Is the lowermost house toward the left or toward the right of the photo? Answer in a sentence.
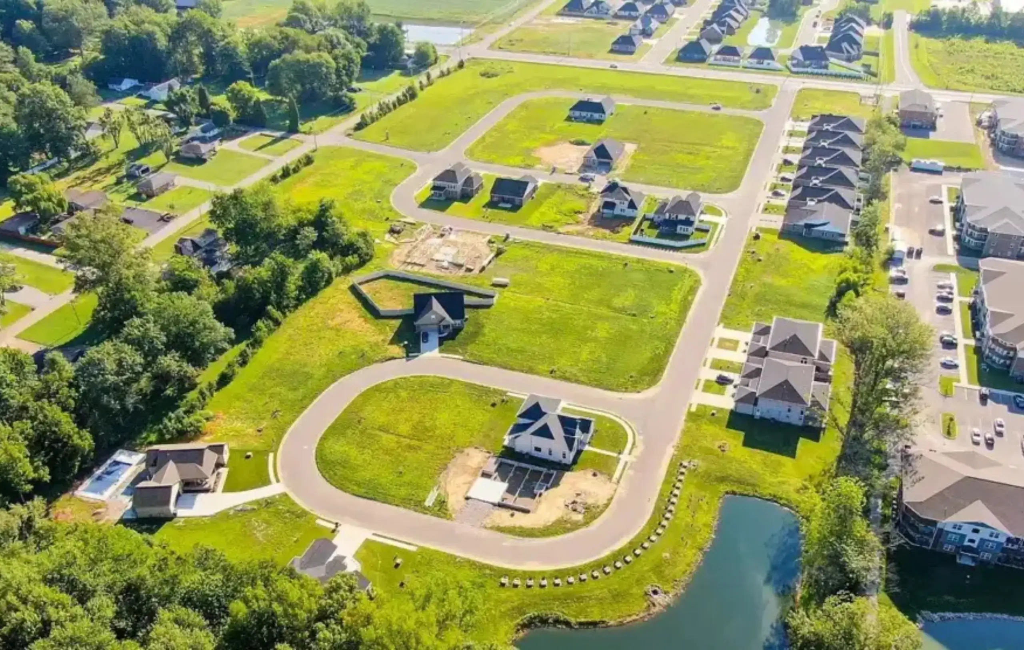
The lowermost house is on the left side of the image.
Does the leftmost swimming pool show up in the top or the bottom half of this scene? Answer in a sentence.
The bottom half of the photo is where the leftmost swimming pool is.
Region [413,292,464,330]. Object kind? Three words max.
house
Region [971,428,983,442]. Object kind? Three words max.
vehicle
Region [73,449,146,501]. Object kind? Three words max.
swimming pool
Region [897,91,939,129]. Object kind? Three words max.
building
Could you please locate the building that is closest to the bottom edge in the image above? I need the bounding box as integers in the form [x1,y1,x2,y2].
[282,543,374,597]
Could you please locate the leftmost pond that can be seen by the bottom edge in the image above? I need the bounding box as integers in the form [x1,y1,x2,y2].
[517,493,802,650]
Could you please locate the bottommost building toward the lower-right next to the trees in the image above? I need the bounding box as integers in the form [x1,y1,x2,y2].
[890,443,1024,573]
